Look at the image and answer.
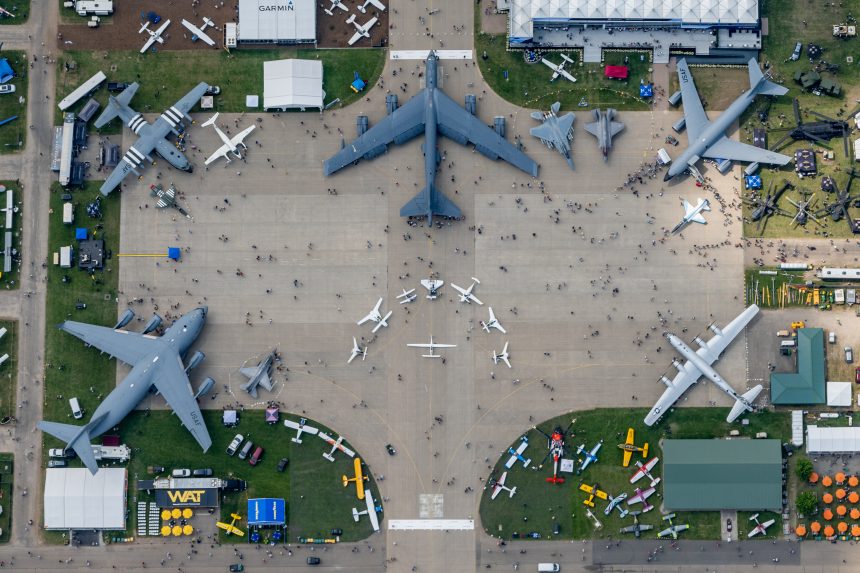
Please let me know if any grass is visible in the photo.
Yes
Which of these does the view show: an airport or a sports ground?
airport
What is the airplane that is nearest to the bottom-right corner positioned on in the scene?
grass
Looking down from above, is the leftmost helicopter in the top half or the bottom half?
bottom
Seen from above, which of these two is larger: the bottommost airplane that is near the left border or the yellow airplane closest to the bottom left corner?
the bottommost airplane that is near the left border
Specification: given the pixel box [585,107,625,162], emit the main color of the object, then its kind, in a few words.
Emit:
gray airplane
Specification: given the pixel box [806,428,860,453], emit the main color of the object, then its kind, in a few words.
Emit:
white tent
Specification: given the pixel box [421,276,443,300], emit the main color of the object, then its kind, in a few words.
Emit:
white airplane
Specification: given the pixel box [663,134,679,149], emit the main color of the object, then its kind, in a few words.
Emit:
gray vehicle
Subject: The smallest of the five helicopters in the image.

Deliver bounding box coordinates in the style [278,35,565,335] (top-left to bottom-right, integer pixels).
[786,184,817,224]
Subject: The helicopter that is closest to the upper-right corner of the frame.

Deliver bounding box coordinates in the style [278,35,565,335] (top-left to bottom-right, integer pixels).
[774,99,860,156]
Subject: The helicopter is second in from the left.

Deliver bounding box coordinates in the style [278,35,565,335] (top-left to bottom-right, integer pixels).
[738,176,796,232]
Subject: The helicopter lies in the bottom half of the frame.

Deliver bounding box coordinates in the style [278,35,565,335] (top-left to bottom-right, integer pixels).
[532,423,583,483]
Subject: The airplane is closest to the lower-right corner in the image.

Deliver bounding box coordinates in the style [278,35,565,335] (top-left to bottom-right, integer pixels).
[747,513,776,538]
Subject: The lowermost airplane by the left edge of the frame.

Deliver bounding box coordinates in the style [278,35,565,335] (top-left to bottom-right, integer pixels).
[33,306,215,476]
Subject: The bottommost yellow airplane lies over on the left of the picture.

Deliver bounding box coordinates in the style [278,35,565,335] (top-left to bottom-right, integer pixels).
[215,513,244,538]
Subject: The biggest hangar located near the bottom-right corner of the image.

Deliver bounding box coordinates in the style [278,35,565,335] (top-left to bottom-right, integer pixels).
[663,439,784,513]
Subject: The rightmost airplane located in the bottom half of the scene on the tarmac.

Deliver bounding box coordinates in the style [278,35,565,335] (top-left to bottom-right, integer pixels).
[644,304,762,424]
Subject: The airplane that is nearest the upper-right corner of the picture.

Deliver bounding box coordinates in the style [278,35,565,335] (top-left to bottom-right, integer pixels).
[663,57,794,181]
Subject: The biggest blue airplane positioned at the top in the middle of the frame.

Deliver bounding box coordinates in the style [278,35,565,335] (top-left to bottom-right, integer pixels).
[323,50,538,224]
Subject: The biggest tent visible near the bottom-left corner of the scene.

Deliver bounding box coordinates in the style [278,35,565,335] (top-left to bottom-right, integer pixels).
[44,468,127,538]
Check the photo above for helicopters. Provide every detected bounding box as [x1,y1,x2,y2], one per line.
[738,176,796,232]
[532,423,583,483]
[774,99,860,156]
[786,184,817,224]
[814,170,860,230]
